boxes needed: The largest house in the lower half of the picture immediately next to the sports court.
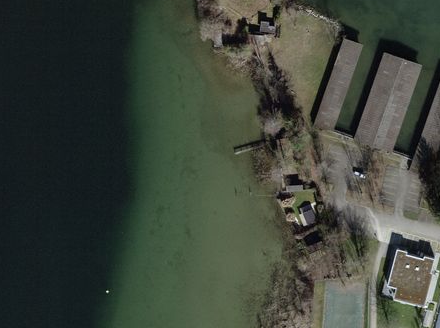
[389,250,436,308]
